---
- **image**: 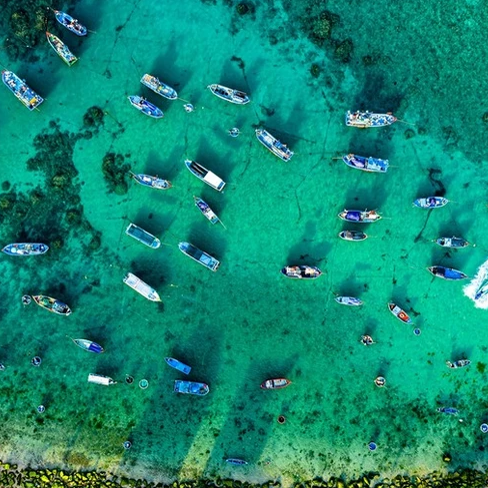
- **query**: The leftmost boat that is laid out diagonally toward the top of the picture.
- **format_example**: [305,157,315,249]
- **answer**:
[0,68,42,110]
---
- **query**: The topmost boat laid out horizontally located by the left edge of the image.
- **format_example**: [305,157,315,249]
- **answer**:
[0,243,51,256]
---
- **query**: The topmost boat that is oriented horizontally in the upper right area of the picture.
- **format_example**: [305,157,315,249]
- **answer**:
[344,108,415,126]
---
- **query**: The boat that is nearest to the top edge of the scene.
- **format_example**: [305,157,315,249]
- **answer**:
[49,6,96,40]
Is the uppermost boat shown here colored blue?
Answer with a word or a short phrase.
Yes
